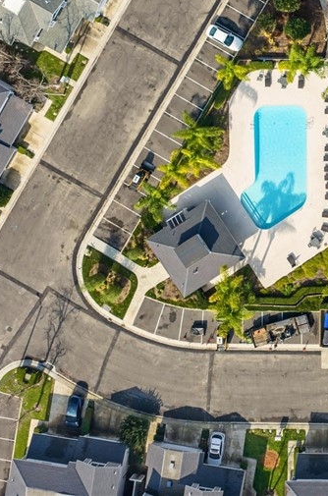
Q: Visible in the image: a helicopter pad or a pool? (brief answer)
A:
pool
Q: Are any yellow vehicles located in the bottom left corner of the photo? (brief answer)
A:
No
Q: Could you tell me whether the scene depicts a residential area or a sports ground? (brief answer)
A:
residential area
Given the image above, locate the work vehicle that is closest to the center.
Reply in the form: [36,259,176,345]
[127,160,150,191]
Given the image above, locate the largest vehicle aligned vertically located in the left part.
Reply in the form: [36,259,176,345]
[65,393,86,430]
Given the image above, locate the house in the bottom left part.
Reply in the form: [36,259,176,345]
[5,429,132,496]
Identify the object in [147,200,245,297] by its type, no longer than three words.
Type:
building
